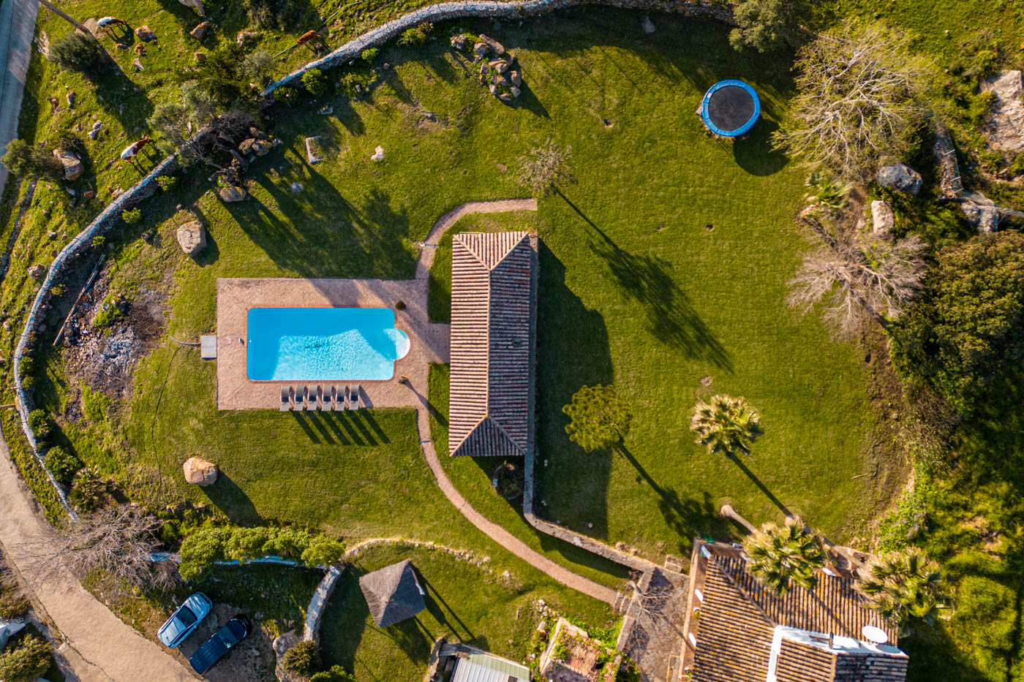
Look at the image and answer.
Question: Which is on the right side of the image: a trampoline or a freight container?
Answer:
trampoline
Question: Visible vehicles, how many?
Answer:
2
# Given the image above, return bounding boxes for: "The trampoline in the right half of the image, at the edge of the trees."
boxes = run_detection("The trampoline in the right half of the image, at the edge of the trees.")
[701,80,760,139]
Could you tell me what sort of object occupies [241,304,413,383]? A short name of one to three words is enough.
swimming pool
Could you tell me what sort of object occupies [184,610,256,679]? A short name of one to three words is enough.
vehicle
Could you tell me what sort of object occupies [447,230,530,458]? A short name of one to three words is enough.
building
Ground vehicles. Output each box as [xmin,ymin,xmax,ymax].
[184,610,256,679]
[155,588,216,650]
